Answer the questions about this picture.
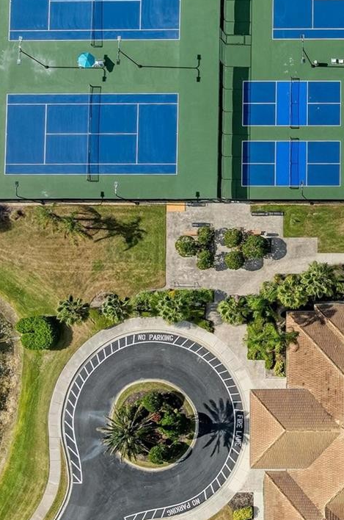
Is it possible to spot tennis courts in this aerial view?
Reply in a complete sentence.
Yes, the picture does show a tennis court.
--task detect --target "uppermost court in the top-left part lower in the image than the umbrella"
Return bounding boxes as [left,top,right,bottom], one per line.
[5,93,179,174]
